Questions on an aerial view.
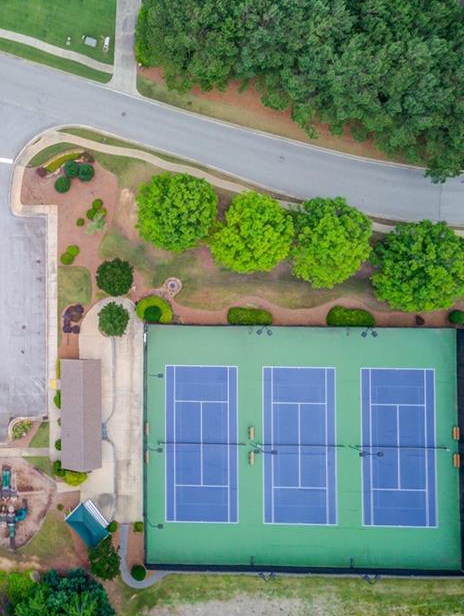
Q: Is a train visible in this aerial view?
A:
No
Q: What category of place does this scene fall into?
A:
sports ground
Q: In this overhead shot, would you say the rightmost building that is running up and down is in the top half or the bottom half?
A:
bottom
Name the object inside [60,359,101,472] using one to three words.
building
